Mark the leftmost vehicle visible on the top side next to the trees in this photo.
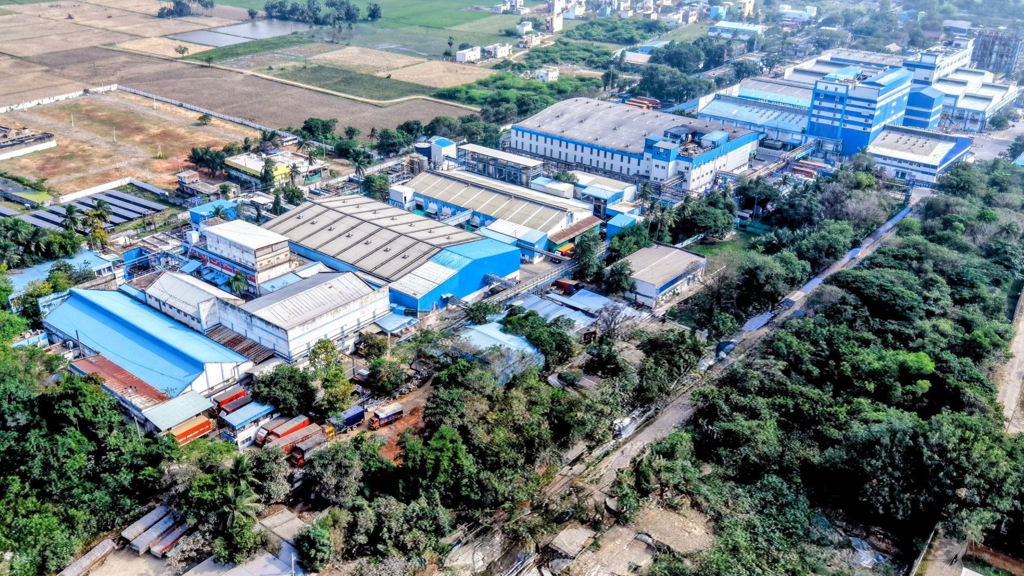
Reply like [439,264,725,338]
[278,132,301,146]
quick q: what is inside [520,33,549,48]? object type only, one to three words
house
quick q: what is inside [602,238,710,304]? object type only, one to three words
building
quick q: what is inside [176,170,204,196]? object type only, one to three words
building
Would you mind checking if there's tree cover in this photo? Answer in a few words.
Yes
